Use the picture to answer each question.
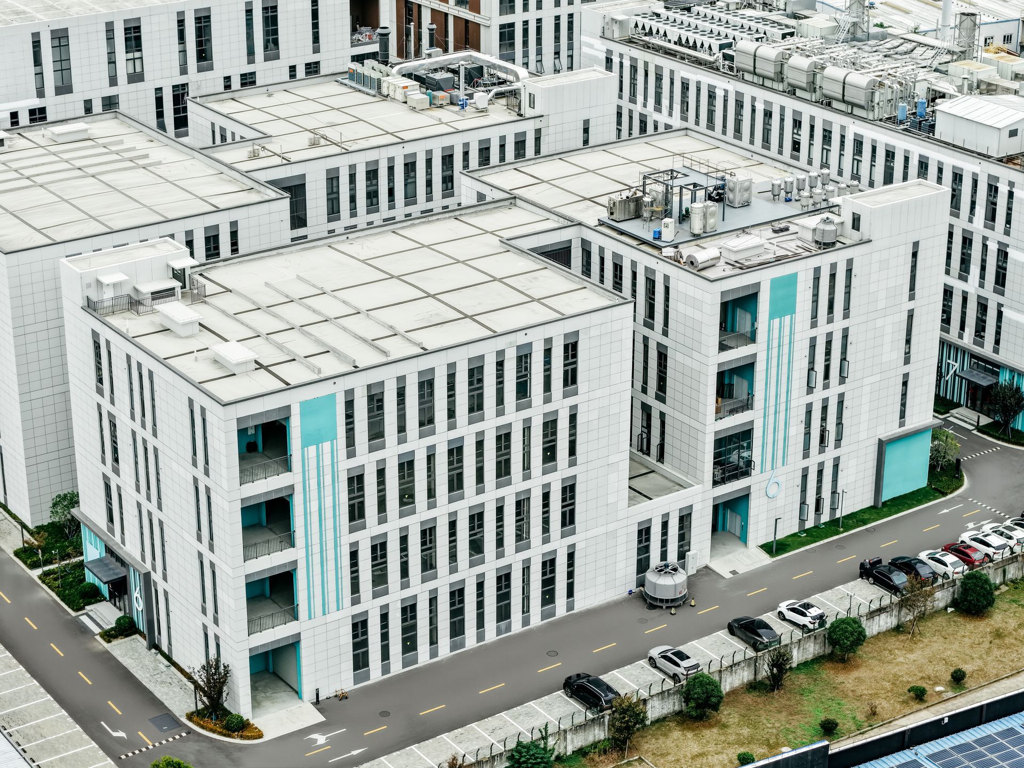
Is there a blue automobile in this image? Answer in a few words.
No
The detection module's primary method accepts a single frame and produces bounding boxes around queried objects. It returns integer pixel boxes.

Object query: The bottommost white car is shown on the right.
[646,645,705,683]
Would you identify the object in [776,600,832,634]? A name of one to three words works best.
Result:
car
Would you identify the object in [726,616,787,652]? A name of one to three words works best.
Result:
car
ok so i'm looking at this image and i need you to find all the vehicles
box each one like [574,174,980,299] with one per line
[890,556,949,588]
[1016,510,1024,518]
[978,523,1024,552]
[646,645,705,683]
[726,616,787,652]
[999,517,1024,530]
[958,530,1019,561]
[915,548,974,579]
[565,674,626,715]
[776,600,832,634]
[937,541,995,569]
[865,555,926,599]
